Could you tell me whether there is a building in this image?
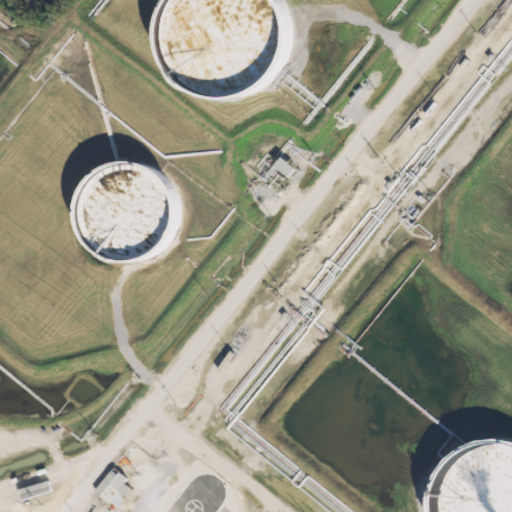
Yes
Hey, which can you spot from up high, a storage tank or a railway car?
storage tank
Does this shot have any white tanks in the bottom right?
Yes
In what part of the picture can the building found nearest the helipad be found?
bottom left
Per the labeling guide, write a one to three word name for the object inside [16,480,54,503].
building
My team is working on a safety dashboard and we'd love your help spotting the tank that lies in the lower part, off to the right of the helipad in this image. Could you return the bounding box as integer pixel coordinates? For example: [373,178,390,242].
[422,437,512,512]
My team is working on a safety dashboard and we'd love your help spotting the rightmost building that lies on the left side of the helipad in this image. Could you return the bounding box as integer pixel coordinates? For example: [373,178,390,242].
[96,470,132,498]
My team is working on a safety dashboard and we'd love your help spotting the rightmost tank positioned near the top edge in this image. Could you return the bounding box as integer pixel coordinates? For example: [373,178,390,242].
[151,0,292,100]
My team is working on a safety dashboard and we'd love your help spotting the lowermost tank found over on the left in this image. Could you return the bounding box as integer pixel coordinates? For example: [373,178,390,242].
[72,160,182,266]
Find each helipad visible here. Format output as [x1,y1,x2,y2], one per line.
[168,474,224,512]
